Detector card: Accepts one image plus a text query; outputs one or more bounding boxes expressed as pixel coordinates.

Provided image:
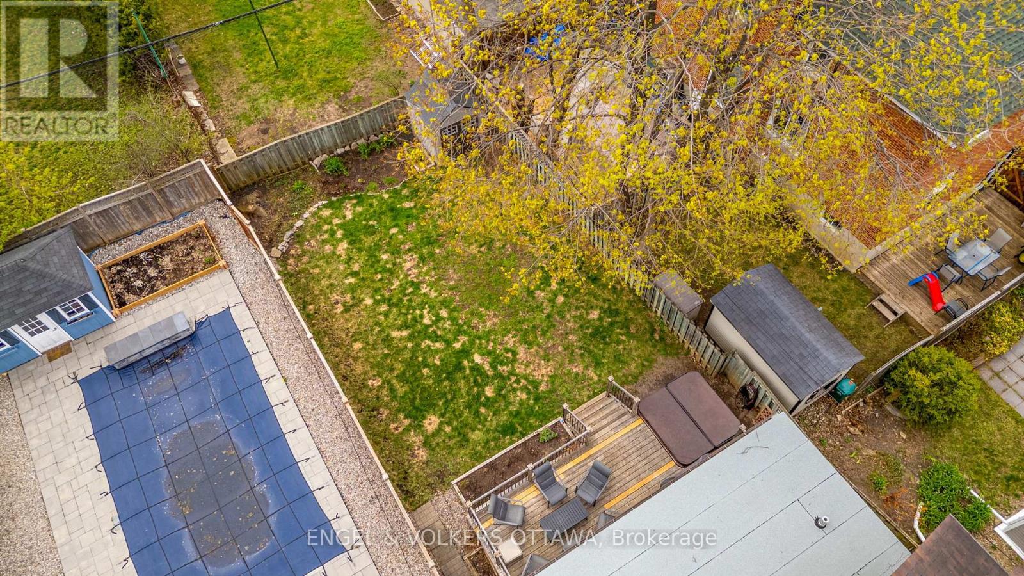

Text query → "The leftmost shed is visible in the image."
[0,224,115,371]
